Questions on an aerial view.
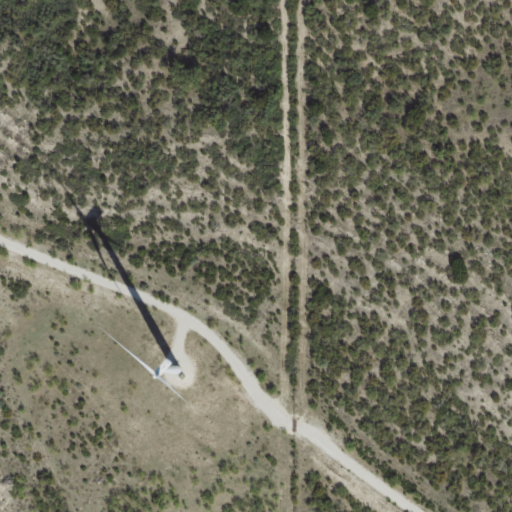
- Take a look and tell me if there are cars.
No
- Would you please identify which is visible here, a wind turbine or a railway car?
wind turbine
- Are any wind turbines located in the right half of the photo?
No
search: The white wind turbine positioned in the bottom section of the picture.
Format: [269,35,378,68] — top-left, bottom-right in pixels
[100,326,188,403]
